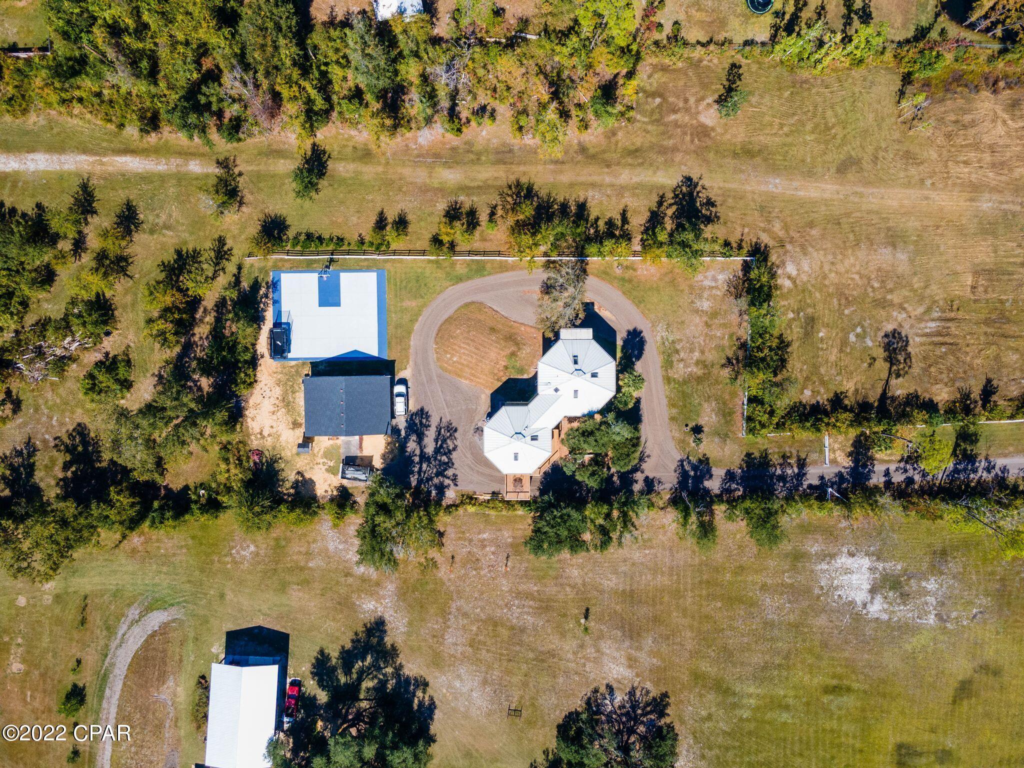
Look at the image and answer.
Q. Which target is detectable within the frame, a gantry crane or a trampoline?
trampoline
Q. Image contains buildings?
Yes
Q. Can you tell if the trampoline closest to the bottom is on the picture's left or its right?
left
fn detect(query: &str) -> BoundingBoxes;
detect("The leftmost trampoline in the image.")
[265,327,290,359]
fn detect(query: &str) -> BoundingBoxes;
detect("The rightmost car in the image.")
[394,385,408,417]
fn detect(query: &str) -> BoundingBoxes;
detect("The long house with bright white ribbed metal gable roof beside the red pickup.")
[205,658,282,768]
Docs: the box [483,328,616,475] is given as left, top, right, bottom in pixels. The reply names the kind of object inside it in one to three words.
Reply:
house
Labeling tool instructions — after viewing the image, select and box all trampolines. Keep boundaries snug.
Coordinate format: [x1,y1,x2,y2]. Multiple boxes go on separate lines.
[265,327,290,359]
[745,0,776,15]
